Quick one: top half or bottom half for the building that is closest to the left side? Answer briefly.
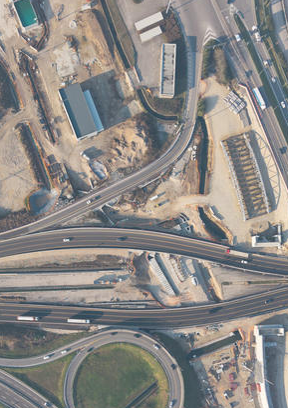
top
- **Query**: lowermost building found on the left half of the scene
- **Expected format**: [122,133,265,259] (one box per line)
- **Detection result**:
[58,83,104,141]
